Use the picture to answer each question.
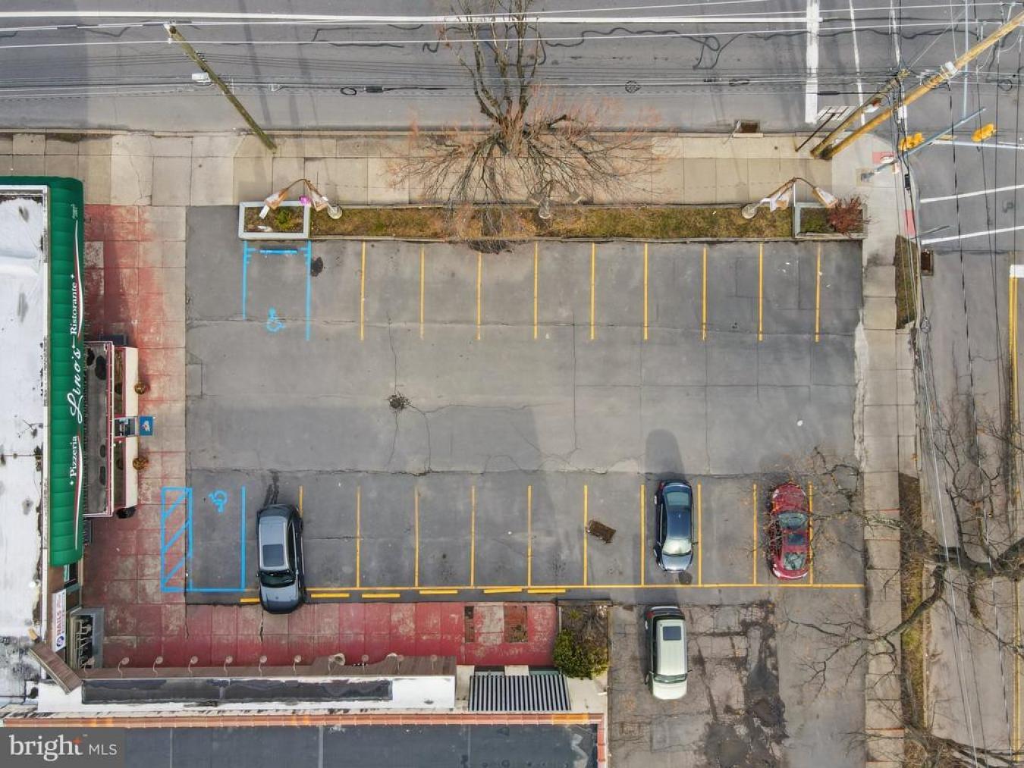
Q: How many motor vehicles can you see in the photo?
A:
4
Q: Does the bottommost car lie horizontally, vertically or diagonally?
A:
vertically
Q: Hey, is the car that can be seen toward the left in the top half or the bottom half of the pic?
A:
bottom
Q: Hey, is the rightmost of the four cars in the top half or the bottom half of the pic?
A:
bottom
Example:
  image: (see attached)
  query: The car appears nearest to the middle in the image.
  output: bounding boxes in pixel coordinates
[654,481,698,575]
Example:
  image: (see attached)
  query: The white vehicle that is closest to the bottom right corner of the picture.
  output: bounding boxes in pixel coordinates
[647,601,694,699]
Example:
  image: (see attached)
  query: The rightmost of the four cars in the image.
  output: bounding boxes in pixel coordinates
[766,482,815,581]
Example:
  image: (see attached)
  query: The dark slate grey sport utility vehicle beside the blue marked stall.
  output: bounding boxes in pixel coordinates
[252,504,302,611]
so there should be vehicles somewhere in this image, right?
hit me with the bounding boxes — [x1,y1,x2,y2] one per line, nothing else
[252,504,302,611]
[654,481,698,575]
[766,482,815,581]
[647,601,694,699]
